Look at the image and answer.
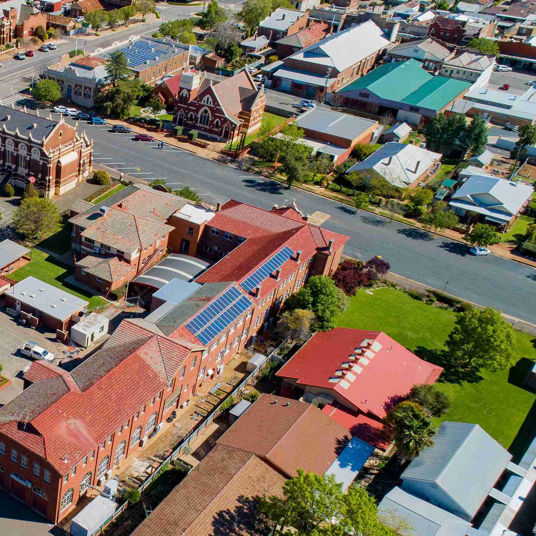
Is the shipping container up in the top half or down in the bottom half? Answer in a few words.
bottom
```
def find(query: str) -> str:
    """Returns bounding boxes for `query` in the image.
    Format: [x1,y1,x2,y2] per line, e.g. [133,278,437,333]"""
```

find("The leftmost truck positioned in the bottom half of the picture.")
[21,341,55,363]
